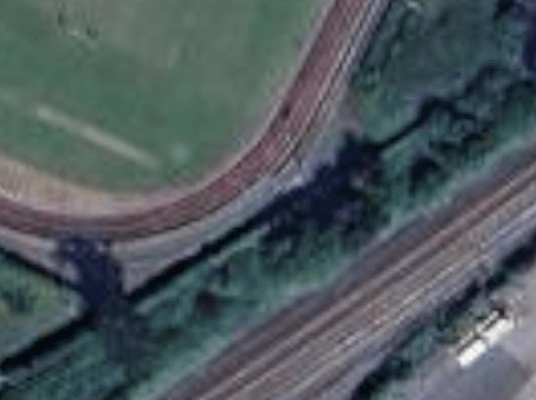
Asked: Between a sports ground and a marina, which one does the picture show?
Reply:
sports ground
